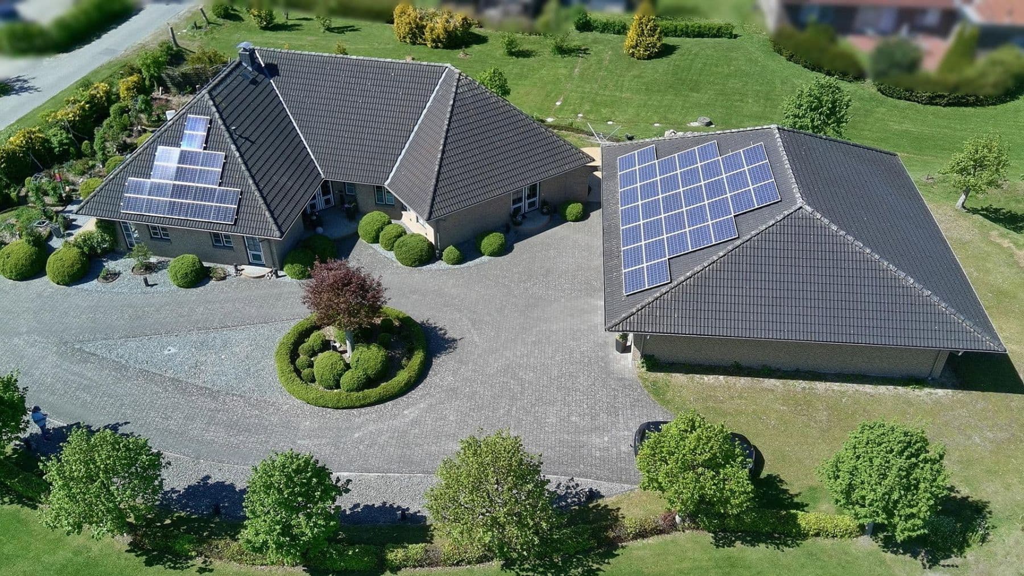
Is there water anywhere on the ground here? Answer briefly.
No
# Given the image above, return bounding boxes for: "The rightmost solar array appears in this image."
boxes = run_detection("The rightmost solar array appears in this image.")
[618,141,780,295]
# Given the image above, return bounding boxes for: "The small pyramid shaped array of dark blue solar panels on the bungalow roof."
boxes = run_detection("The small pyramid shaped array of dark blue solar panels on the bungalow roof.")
[120,115,242,224]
